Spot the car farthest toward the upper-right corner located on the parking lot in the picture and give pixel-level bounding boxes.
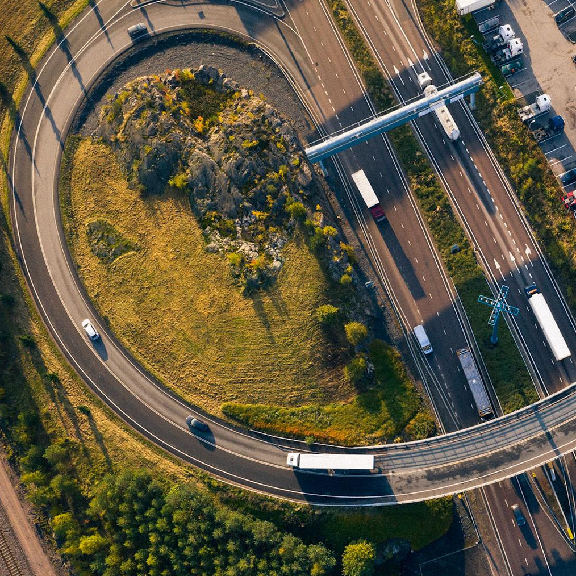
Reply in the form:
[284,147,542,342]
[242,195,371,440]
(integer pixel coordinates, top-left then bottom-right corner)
[553,7,575,26]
